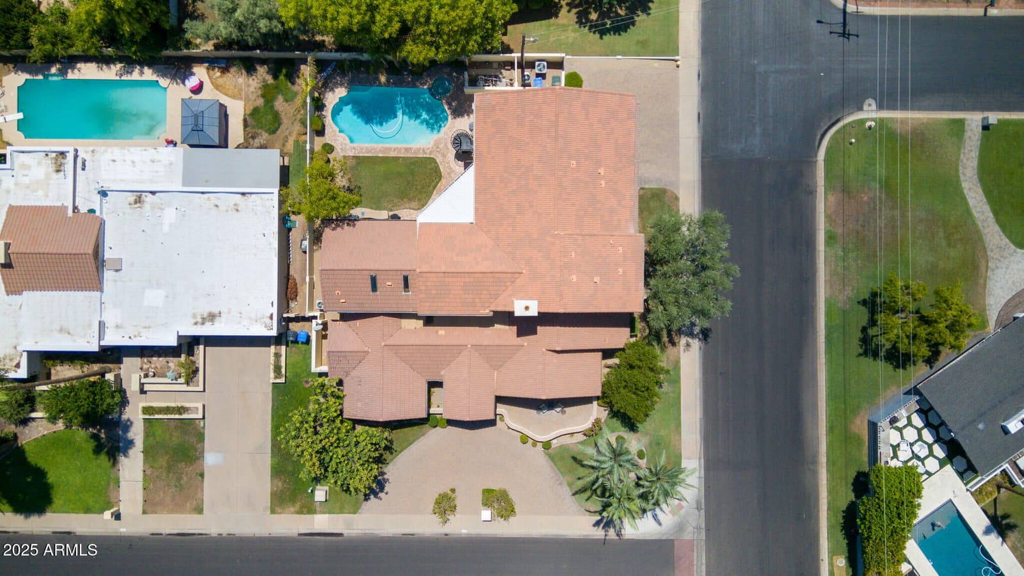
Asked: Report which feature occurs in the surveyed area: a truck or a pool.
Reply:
pool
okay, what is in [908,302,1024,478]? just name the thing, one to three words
house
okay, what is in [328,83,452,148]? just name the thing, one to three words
swimming pool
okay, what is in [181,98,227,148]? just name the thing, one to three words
gazebo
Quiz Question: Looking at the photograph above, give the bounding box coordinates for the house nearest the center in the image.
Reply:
[319,86,645,423]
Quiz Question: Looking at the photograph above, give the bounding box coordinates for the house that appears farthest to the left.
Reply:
[0,147,287,377]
